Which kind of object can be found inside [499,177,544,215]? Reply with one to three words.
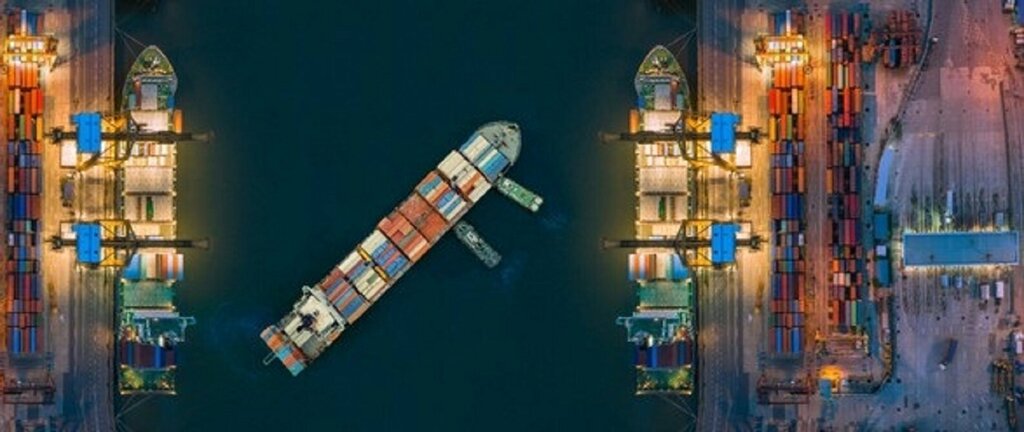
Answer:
boat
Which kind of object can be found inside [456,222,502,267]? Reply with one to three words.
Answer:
boat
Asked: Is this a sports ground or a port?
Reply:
port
